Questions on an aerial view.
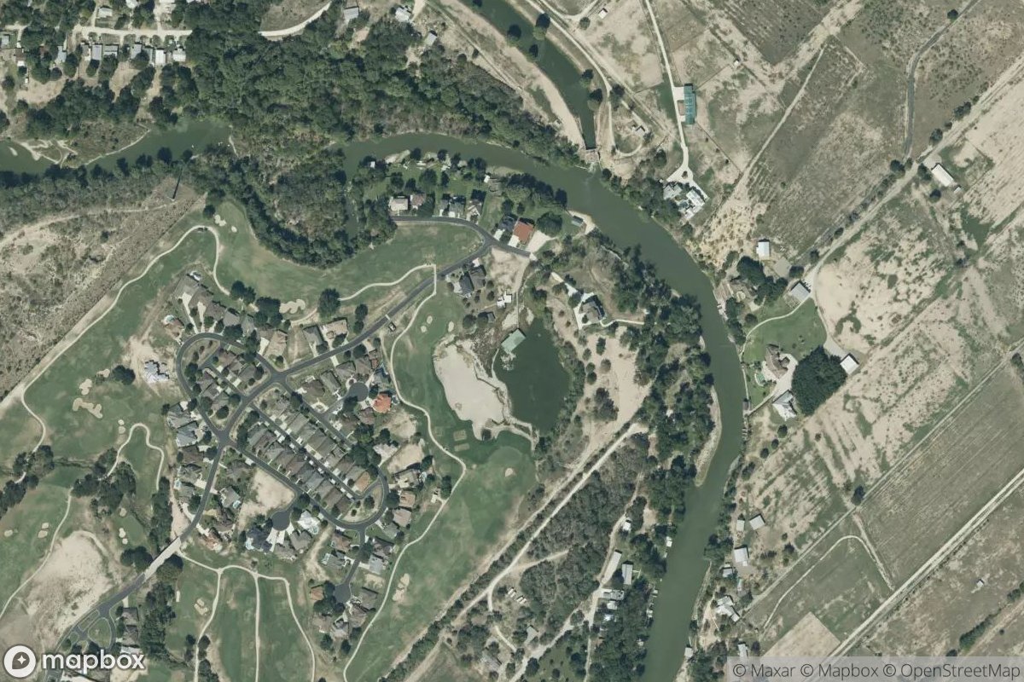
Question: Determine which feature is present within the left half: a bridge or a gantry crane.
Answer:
bridge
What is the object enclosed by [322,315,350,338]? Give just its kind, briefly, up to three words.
house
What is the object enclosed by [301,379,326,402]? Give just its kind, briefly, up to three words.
house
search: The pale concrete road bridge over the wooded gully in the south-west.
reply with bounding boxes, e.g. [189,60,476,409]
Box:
[139,538,184,580]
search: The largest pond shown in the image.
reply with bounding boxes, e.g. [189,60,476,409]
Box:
[494,318,569,435]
